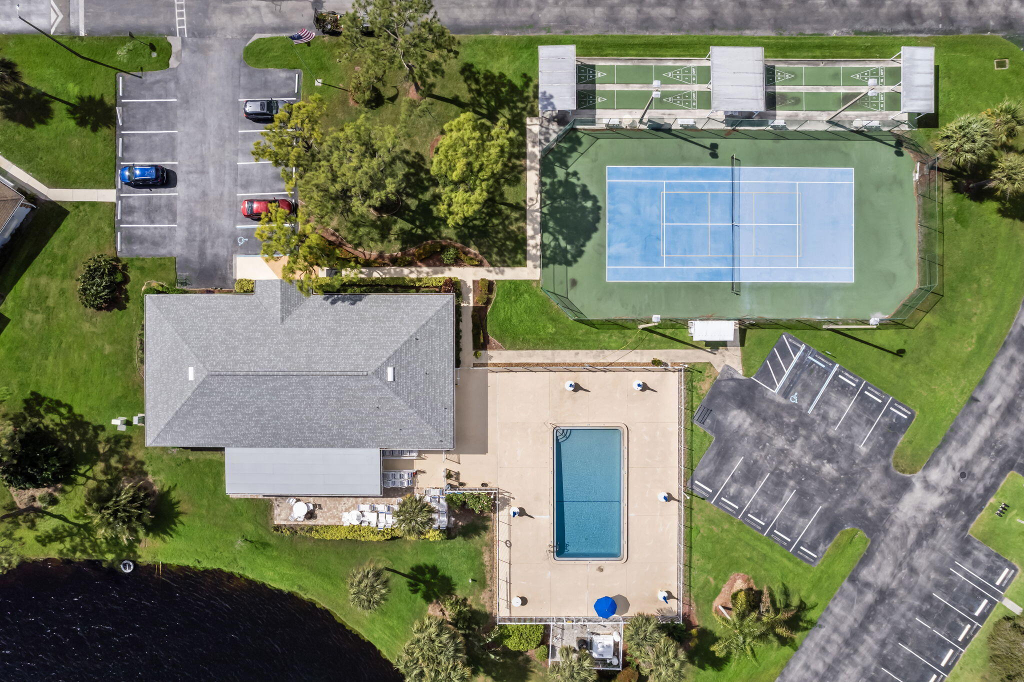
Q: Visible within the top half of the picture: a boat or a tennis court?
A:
tennis court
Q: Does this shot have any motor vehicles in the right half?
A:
No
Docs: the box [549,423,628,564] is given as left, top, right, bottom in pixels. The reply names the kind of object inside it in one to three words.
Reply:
swimming pool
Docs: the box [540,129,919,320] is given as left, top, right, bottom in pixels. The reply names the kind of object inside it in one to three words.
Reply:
tennis court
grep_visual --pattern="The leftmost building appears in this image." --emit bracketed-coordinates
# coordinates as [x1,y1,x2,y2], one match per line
[0,164,41,258]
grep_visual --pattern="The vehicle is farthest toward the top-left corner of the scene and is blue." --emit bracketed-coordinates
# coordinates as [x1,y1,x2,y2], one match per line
[121,162,168,186]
